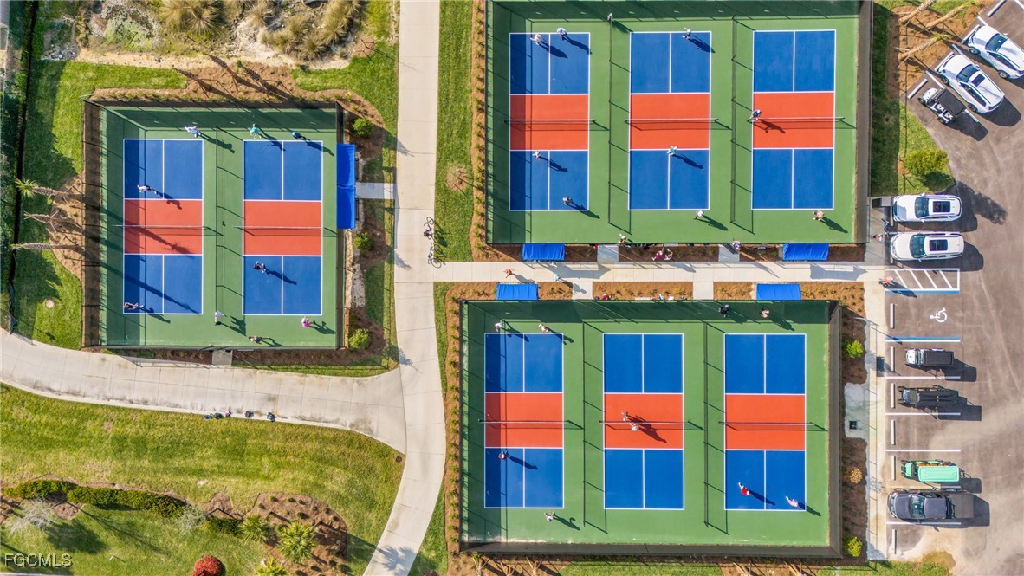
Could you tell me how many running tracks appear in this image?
0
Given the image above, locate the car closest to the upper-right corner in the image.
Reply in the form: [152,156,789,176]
[967,22,1024,78]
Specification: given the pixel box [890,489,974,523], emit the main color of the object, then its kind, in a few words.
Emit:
gray truck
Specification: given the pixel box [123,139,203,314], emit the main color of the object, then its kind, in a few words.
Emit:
blue sports court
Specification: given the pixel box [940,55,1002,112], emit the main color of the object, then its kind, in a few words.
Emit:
white car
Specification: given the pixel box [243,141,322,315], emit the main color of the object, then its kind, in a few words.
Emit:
blue sports court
